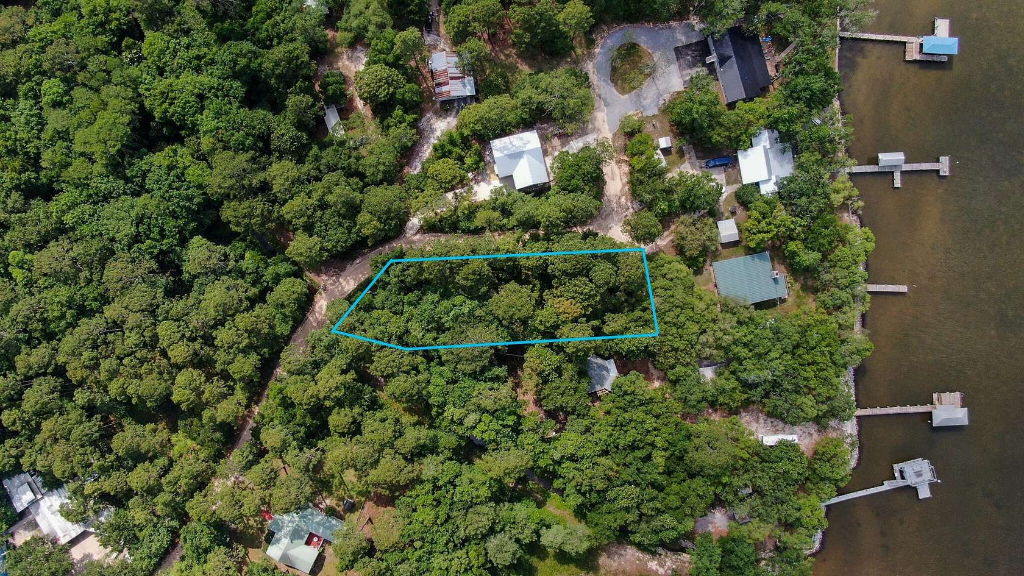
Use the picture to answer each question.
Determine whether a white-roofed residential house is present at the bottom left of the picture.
Yes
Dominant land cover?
trees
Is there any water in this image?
Yes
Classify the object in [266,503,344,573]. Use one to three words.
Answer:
building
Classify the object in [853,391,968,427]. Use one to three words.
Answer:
pier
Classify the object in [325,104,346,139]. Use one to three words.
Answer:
shed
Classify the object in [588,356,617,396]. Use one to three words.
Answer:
house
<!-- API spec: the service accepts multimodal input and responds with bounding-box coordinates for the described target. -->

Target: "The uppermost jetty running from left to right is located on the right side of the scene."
[839,19,958,63]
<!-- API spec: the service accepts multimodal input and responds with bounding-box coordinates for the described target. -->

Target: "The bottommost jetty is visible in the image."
[820,455,938,506]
